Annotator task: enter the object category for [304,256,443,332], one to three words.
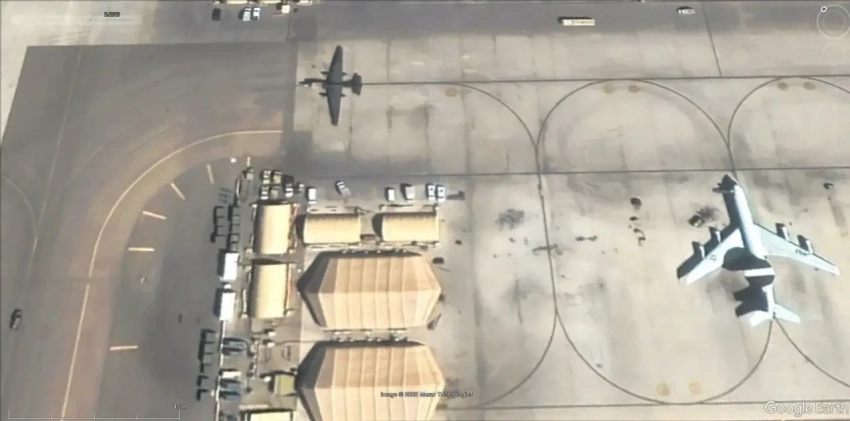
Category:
hangar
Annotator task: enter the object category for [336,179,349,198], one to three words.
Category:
vehicle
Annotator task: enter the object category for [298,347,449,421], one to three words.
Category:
hangar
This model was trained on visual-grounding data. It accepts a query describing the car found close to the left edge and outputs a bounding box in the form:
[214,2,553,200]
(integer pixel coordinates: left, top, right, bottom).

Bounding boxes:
[8,311,21,329]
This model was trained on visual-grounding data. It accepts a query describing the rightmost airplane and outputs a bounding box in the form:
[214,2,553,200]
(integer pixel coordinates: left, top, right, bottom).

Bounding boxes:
[678,176,834,326]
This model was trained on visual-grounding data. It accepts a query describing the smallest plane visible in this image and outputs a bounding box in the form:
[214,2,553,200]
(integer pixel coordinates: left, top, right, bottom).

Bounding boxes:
[301,47,362,125]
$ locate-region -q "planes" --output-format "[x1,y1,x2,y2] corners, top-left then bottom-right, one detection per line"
[678,176,834,326]
[301,47,362,125]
